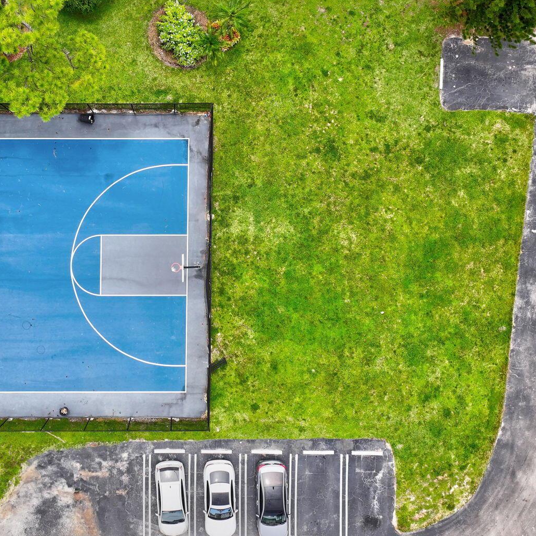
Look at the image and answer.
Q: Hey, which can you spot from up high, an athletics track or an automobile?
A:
automobile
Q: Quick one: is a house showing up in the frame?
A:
No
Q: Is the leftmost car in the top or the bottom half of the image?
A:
bottom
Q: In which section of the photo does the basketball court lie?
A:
left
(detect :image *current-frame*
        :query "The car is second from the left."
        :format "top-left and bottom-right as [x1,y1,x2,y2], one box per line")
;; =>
[202,459,240,536]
